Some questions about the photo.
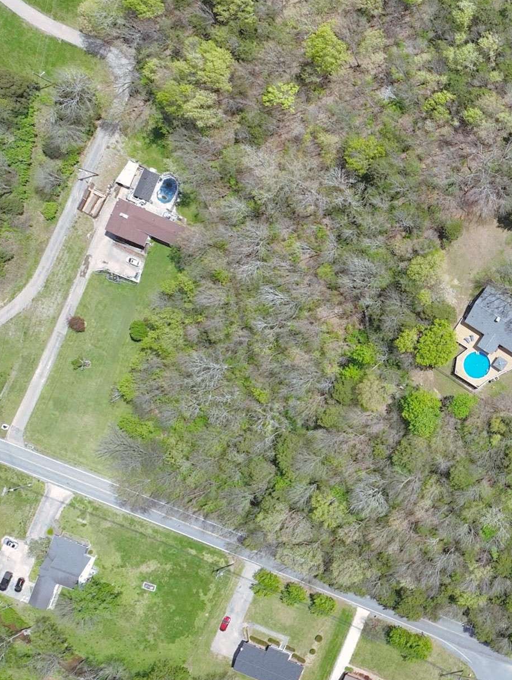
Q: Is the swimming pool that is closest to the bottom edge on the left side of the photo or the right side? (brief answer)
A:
right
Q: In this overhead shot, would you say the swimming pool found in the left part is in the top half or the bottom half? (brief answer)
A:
top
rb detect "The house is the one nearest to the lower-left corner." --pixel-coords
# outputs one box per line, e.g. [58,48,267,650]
[27,535,102,611]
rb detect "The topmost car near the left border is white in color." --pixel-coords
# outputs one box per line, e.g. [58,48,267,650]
[0,537,18,551]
